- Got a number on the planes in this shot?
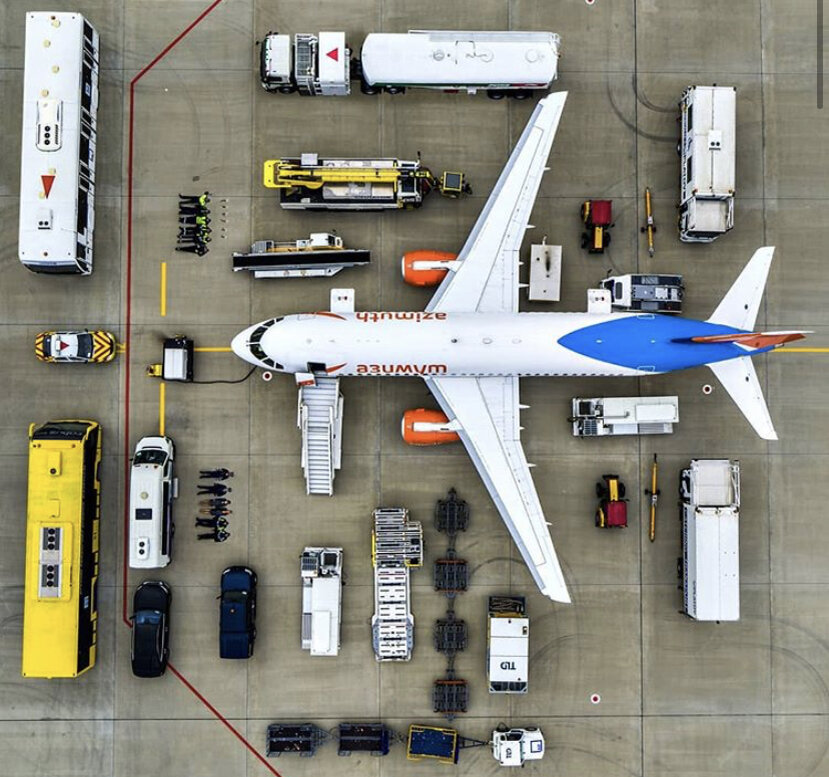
one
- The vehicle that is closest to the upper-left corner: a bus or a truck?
bus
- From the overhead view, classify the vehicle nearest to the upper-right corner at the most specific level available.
truck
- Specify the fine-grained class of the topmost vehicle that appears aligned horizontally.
truck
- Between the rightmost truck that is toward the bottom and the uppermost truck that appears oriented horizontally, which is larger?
the uppermost truck that appears oriented horizontally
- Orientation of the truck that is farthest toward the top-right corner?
vertically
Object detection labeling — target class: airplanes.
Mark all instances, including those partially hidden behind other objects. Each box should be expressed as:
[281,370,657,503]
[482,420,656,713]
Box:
[232,91,814,604]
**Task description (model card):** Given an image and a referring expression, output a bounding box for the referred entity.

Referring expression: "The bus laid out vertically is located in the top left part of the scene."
[19,12,98,274]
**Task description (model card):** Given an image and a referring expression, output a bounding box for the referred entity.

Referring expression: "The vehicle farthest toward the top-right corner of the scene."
[676,86,738,245]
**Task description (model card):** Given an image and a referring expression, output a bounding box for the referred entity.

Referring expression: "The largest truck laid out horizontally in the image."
[253,32,559,99]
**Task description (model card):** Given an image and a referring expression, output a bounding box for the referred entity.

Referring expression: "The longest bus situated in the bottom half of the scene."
[21,421,100,678]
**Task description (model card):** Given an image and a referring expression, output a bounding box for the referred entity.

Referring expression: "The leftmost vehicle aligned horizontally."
[37,328,119,367]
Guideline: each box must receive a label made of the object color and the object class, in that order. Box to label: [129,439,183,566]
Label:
white van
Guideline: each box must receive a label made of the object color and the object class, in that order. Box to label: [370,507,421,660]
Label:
white work vehicle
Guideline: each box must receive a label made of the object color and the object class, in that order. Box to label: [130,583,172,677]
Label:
black car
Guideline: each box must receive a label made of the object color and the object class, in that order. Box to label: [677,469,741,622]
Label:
white truck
